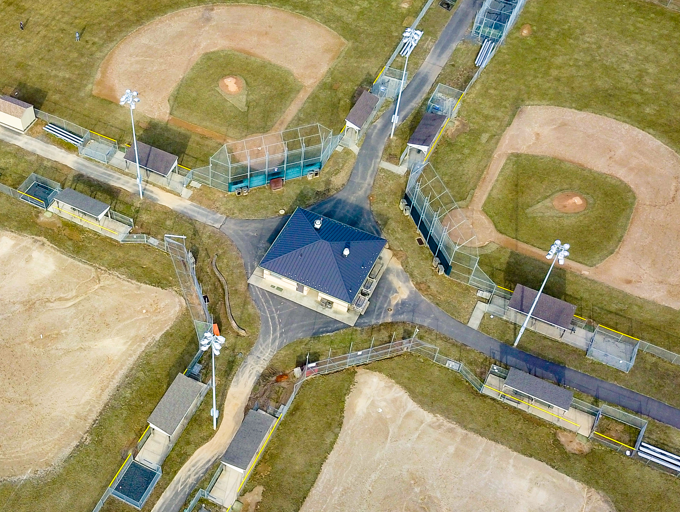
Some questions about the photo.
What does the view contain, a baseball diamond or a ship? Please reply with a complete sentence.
The one in the frame is a baseball diamond.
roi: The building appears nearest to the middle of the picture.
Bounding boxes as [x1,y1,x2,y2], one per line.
[256,206,389,312]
